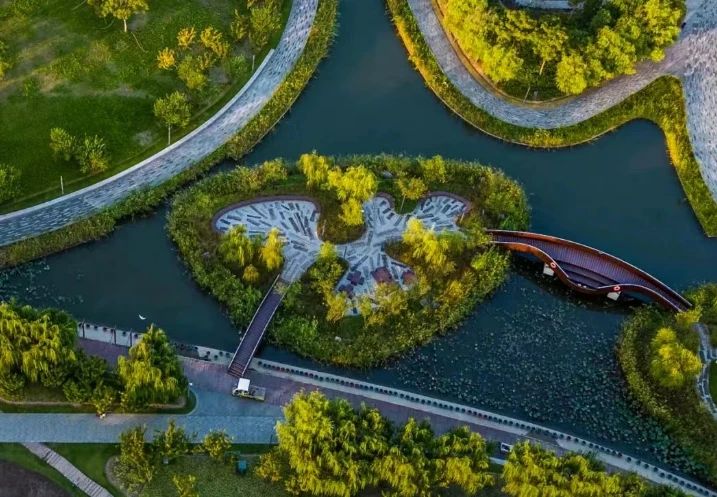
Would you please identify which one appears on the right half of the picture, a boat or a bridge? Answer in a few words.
bridge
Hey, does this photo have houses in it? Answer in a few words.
No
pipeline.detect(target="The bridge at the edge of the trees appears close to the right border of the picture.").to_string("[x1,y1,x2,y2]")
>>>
[484,230,685,318]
